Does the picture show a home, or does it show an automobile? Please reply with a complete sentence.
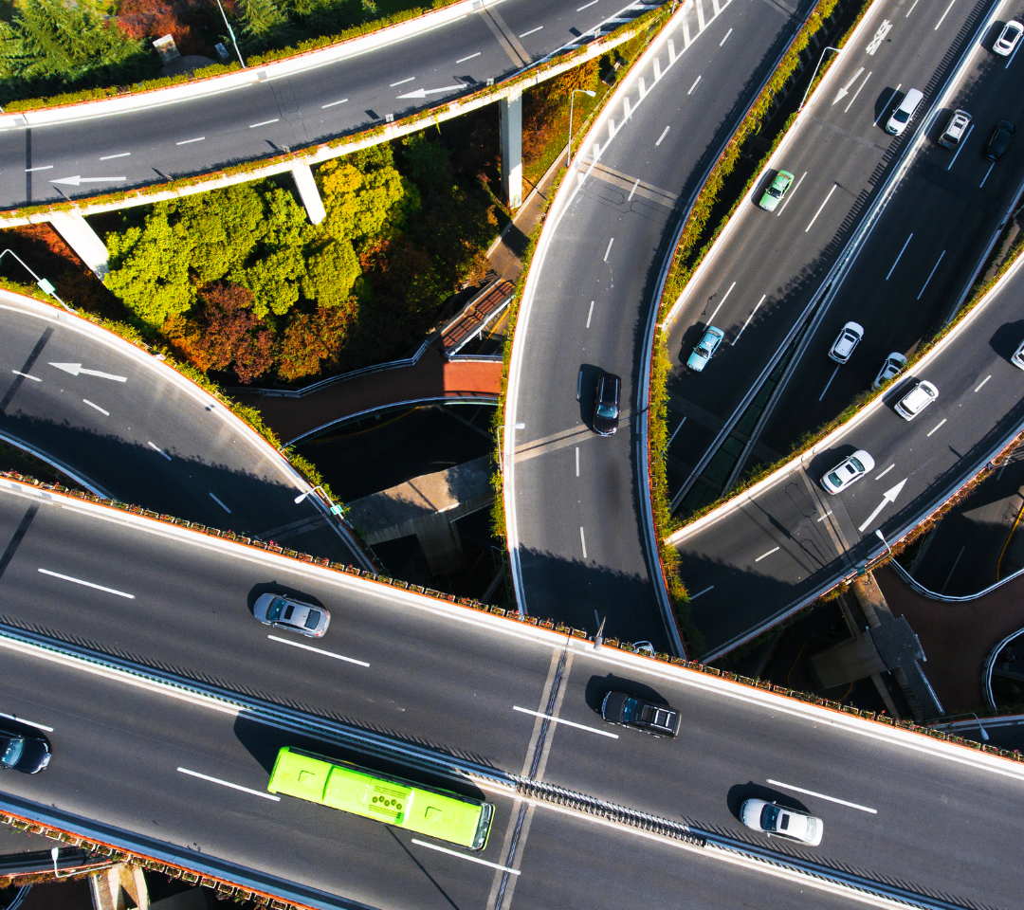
There is an automobile in the scene.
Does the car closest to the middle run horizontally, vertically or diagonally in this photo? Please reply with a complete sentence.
In this picture, the car closest to the middle lies vertically.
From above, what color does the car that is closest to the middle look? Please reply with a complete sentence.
From above, the car that is closest to the middle appears black.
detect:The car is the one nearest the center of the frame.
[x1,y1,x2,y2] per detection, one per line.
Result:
[590,374,623,440]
